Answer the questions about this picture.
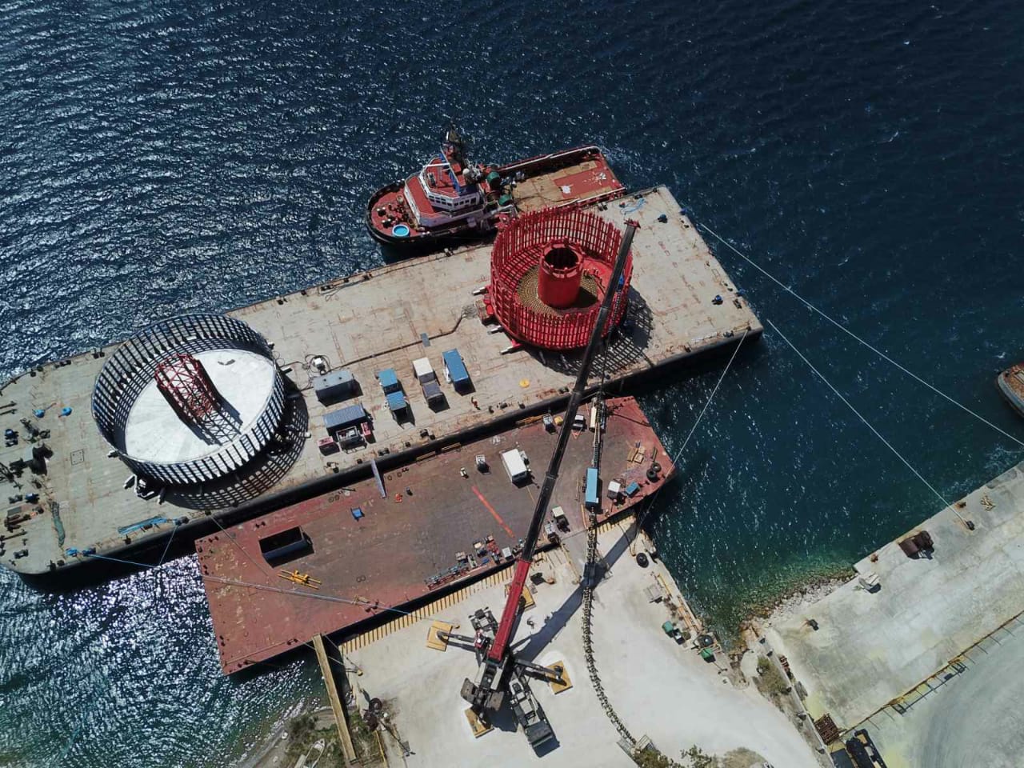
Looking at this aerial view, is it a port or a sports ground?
port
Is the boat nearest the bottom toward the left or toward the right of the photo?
left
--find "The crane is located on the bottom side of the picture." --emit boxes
[433,225,639,753]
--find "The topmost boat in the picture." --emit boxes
[368,122,626,256]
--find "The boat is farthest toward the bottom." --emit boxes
[300,739,323,768]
